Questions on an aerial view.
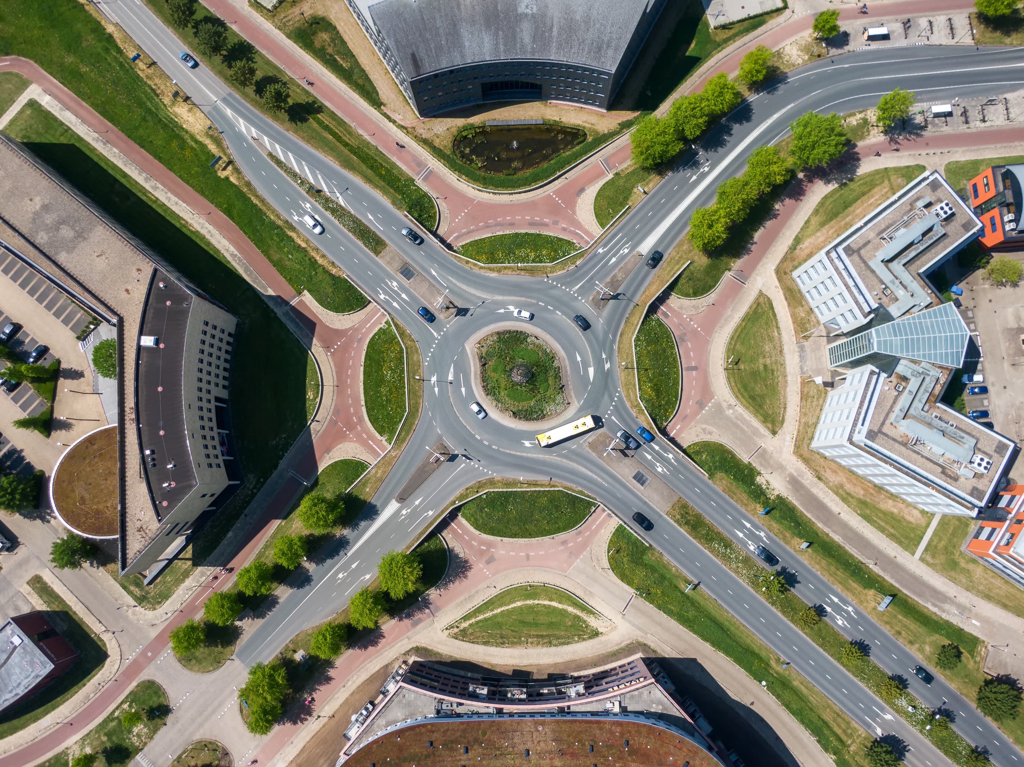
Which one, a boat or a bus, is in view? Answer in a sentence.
The one in the frame is a bus.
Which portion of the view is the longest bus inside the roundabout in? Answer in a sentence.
You can find the longest bus inside the roundabout in the center area of the picture.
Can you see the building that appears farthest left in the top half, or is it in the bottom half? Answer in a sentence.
The building that appears farthest left sits in the bottom half of the picture.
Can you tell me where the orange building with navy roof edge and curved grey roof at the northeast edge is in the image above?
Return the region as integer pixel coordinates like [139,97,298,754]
[971,162,1024,251]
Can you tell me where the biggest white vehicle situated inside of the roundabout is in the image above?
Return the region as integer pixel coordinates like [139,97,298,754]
[535,411,598,446]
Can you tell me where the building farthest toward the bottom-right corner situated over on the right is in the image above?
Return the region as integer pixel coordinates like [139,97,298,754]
[966,464,1024,589]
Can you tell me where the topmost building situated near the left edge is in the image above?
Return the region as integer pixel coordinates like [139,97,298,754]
[0,132,241,586]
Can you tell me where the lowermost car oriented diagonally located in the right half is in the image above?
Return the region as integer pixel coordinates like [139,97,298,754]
[912,664,936,686]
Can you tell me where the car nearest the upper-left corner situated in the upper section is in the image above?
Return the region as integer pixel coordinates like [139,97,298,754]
[180,50,197,69]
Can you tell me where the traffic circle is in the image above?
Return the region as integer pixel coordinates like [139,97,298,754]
[418,277,625,484]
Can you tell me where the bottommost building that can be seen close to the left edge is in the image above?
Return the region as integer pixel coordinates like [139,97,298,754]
[0,611,81,721]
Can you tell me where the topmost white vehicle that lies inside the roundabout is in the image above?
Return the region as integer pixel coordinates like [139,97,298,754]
[512,308,534,322]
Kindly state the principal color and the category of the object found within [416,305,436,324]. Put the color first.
blue car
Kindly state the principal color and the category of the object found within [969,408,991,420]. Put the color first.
blue vehicle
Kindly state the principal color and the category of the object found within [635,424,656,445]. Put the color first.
blue car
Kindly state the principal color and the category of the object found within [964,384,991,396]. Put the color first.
blue vehicle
